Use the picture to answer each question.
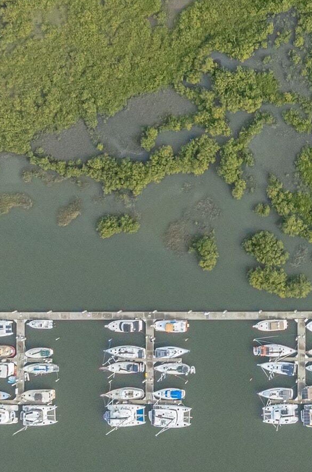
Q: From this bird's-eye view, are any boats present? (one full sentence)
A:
Yes, the picture does show a boat.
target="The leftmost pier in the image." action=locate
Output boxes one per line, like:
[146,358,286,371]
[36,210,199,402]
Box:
[0,320,54,405]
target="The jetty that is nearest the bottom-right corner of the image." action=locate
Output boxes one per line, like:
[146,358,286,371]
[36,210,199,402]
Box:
[270,320,312,404]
